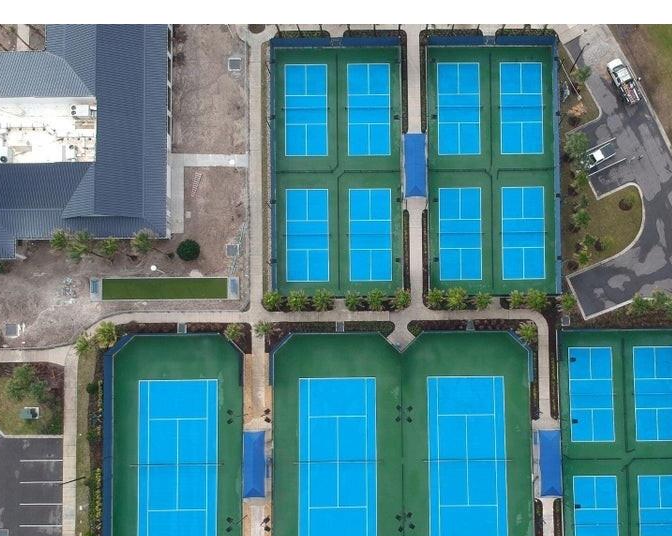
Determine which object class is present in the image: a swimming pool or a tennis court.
tennis court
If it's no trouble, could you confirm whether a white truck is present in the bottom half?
No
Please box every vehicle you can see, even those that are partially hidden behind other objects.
[576,141,619,171]
[609,62,645,105]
